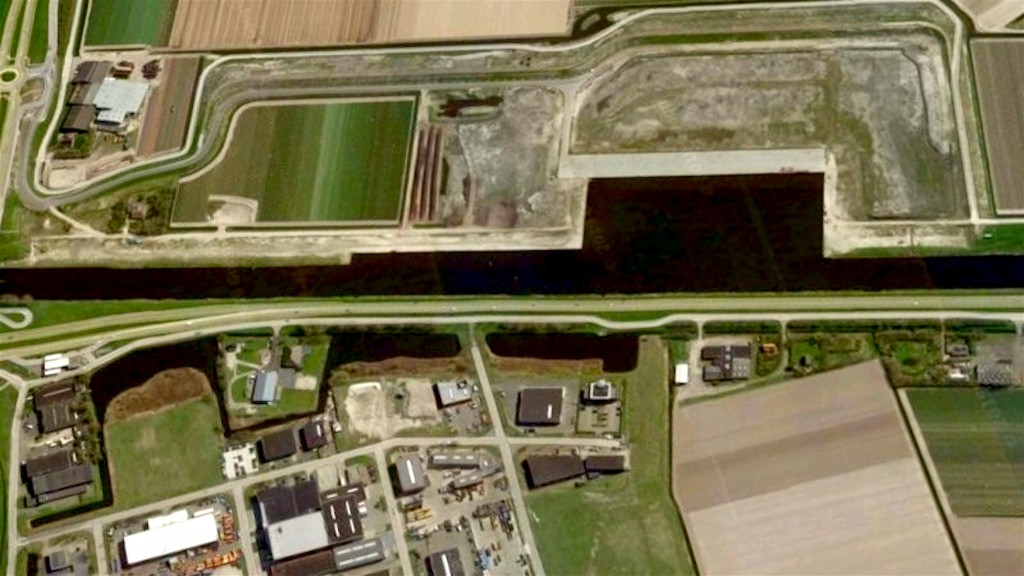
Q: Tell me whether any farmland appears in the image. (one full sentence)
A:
Yes, the picture does contain farmland.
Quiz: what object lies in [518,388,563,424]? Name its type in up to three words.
building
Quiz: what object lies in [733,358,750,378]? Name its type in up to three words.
barn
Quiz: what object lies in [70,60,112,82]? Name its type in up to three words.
barn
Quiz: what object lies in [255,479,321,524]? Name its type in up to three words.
building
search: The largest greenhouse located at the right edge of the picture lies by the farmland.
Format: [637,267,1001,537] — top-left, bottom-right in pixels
[978,363,1013,386]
